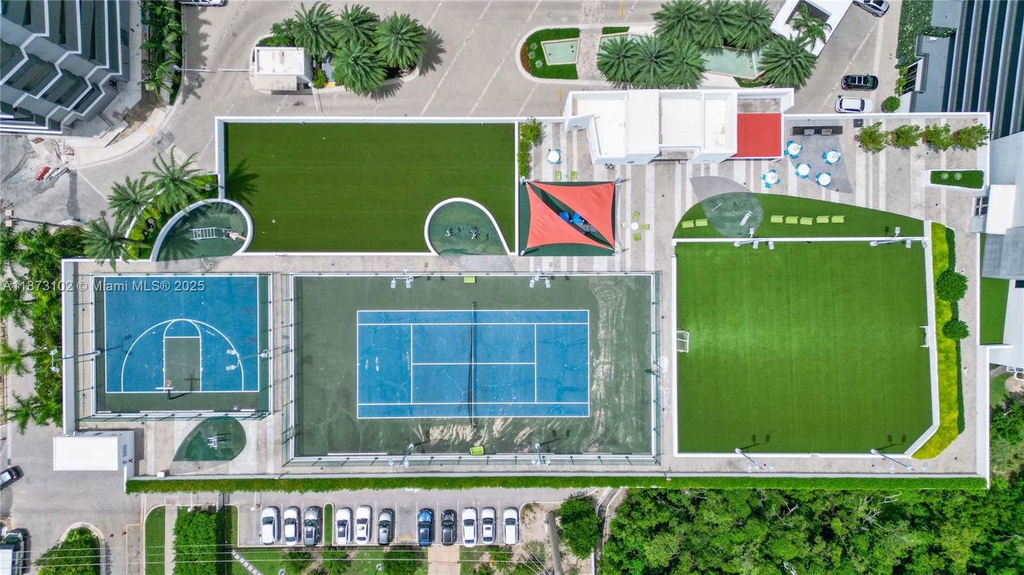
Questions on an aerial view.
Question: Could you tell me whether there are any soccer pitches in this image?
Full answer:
Yes, the photo shows a soccer pitch.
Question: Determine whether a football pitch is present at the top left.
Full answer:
No, there is no football pitch at the top left.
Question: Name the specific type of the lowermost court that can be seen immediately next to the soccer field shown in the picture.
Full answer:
The lowermost court that can be seen immediately next to the soccer field can be classified as a tennis court.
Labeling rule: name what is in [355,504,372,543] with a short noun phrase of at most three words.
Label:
car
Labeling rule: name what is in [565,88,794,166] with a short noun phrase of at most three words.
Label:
building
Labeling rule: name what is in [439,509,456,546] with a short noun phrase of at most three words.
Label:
car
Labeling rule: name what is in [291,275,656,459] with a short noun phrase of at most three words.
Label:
tennis court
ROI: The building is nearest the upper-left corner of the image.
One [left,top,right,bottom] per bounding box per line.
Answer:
[0,0,131,137]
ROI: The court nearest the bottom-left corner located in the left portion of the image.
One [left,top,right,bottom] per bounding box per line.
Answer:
[92,274,269,417]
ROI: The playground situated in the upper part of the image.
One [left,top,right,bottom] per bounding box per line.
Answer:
[519,181,615,256]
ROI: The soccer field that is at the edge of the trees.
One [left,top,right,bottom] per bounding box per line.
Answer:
[676,242,933,455]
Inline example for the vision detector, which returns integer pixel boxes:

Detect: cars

[502,506,519,543]
[838,73,877,92]
[302,506,321,545]
[0,464,24,490]
[439,509,456,546]
[852,0,890,19]
[335,507,353,545]
[355,504,372,543]
[480,505,497,543]
[832,95,872,114]
[377,508,394,545]
[461,506,478,546]
[416,507,434,546]
[282,505,301,545]
[261,505,280,544]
